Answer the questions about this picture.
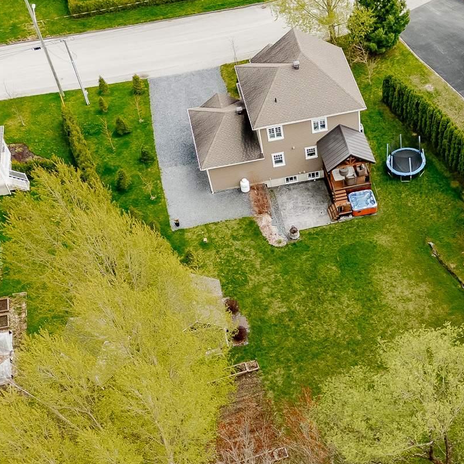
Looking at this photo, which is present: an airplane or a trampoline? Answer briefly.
trampoline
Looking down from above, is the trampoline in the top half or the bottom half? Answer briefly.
top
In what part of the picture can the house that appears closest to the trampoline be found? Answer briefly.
top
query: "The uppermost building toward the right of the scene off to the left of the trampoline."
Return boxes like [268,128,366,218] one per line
[189,23,368,195]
